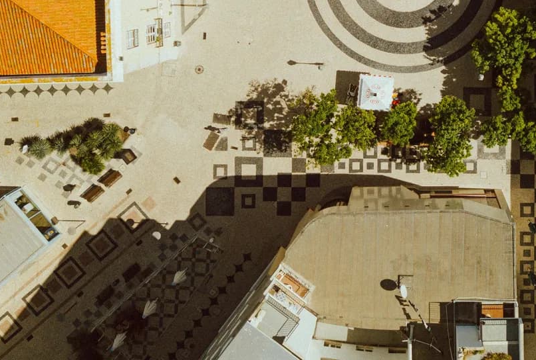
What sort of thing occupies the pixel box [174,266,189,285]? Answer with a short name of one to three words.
umbrella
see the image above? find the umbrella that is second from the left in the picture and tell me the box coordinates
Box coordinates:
[145,295,162,316]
